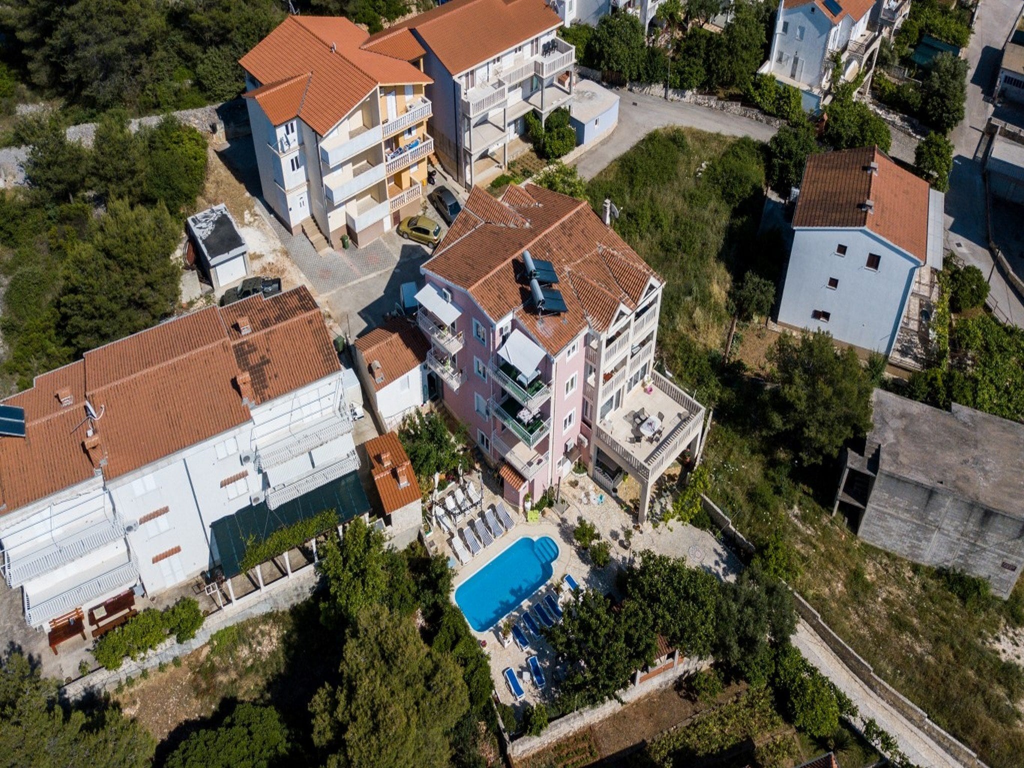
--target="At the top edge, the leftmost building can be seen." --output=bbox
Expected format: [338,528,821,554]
[236,1,447,261]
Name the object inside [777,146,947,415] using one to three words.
house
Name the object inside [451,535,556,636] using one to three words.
swimming pool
